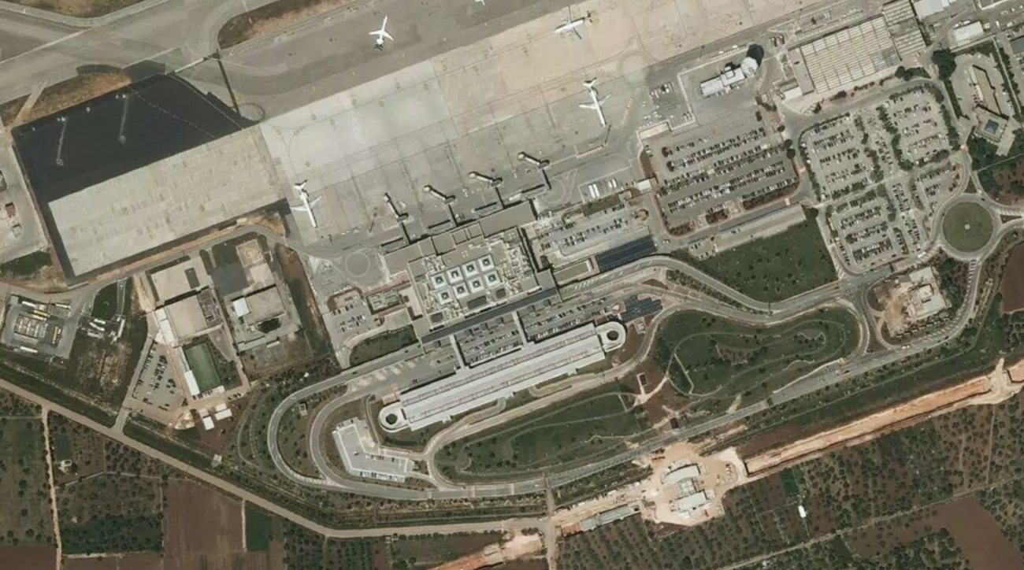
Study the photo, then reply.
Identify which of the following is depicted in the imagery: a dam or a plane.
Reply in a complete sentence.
Of the two, only a plane appears.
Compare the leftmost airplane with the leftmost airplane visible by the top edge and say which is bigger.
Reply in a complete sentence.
The leftmost airplane is bigger than the leftmost airplane visible by the top edge.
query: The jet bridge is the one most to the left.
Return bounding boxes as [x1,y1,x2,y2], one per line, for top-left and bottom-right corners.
[383,193,411,244]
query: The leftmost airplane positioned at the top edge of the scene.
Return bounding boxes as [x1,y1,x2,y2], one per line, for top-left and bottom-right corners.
[369,16,394,47]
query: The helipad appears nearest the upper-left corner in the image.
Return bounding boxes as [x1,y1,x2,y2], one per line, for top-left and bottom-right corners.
[236,240,263,266]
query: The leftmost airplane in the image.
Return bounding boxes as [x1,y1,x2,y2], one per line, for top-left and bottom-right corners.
[289,179,322,227]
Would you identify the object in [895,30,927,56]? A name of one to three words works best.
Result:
shed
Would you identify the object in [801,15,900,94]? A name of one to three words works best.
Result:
shed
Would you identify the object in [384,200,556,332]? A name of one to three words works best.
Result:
building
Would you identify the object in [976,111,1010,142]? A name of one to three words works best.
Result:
building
